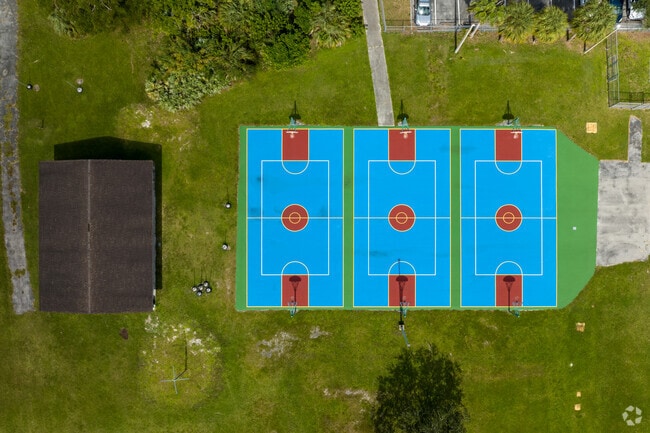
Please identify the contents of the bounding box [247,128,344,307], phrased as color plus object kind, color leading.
blue basketball court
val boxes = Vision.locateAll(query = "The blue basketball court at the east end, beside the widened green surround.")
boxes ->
[460,128,557,307]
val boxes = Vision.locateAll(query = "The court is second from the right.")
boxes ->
[354,128,451,307]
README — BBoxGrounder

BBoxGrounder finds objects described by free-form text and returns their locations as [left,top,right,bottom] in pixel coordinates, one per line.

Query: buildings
[39,159,158,314]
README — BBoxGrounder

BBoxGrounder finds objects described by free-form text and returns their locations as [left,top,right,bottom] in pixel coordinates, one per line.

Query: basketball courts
[460,128,557,307]
[354,128,451,307]
[247,128,344,307]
